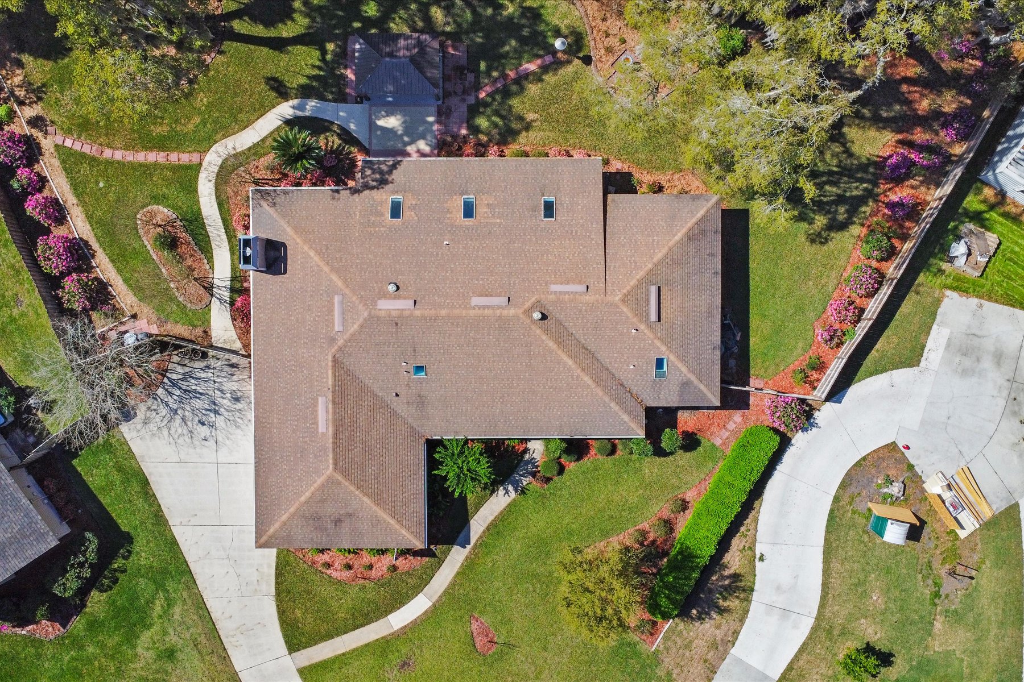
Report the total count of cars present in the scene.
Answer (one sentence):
Not a single car can be seen.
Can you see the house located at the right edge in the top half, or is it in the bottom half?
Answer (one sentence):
The top half of the photo is where the house located at the right edge is.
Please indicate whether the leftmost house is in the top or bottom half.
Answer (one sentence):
The leftmost house sits in the bottom half of the picture.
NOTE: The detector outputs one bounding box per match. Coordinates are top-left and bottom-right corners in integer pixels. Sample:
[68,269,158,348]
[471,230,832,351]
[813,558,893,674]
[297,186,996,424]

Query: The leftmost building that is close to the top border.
[355,32,443,104]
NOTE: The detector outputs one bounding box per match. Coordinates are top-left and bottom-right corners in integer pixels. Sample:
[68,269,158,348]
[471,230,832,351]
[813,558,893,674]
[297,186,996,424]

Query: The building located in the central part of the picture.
[232,155,721,565]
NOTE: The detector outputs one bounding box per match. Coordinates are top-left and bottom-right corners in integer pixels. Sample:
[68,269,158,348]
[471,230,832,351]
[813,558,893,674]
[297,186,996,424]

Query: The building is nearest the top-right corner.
[979,110,1024,206]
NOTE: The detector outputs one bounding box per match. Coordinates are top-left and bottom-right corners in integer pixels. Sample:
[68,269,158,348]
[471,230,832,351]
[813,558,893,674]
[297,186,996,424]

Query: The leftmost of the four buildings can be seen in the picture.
[0,438,70,582]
